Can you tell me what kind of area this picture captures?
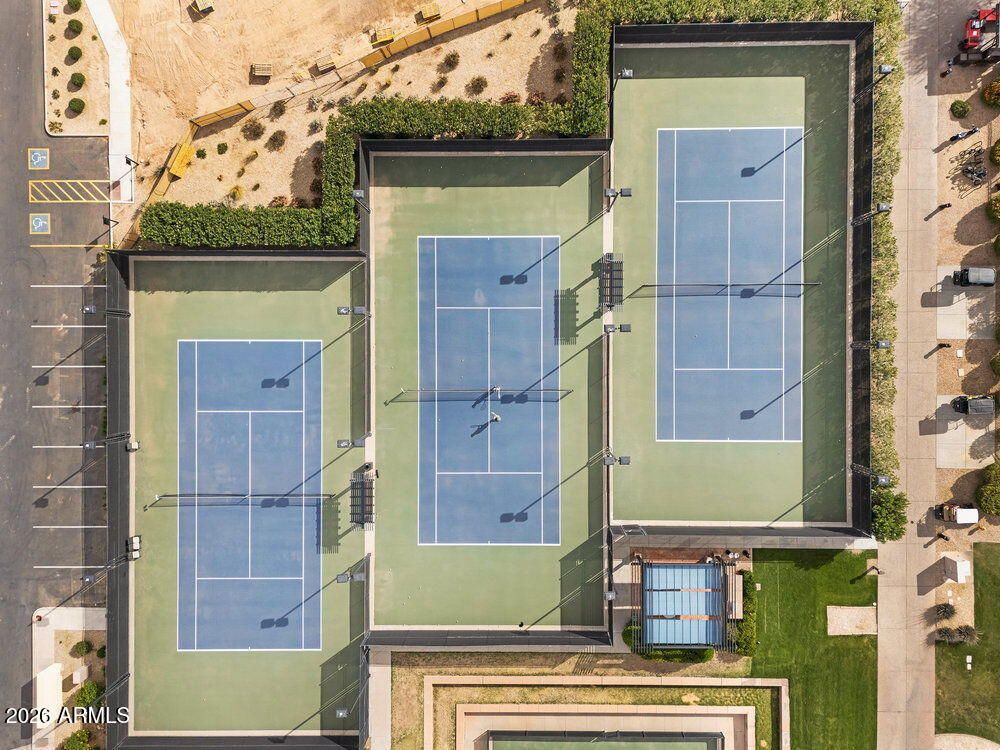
sports ground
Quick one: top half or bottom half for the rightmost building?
bottom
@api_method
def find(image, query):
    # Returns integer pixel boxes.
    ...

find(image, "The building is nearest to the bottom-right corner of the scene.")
[630,553,738,651]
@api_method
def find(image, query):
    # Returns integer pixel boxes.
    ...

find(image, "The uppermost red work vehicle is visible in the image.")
[953,8,1000,52]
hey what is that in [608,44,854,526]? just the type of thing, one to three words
tennis court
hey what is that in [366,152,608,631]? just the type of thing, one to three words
tennis court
